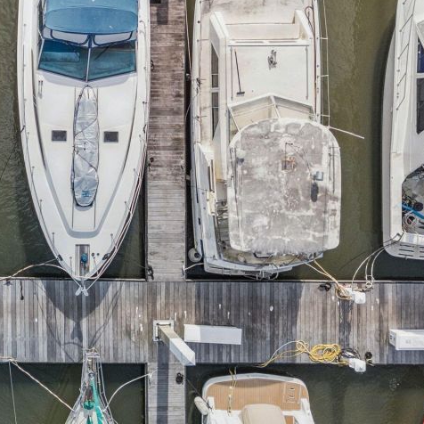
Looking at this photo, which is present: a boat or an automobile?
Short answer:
boat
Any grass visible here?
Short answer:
No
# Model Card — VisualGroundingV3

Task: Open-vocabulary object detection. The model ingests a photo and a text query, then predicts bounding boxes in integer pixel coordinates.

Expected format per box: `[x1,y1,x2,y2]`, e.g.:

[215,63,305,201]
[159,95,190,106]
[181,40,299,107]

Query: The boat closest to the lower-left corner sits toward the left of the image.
[67,348,117,424]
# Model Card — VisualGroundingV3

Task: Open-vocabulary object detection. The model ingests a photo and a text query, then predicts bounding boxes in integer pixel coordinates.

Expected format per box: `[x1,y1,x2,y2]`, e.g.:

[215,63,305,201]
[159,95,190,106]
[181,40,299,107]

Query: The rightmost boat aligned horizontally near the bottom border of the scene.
[197,371,314,424]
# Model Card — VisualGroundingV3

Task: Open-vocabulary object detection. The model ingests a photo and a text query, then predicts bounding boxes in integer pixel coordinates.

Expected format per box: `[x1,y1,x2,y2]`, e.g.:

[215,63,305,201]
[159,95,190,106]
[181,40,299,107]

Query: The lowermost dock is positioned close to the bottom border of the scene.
[144,365,187,424]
